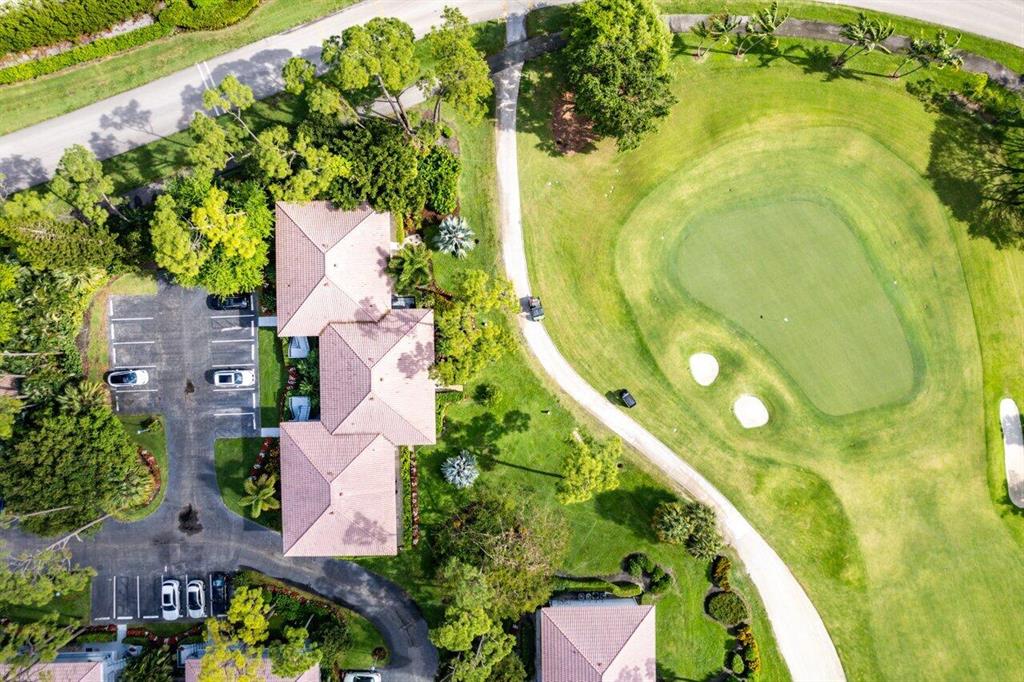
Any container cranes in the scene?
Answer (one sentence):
No, there appears to be no container crane in this shot.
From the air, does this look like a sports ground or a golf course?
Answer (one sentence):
The area seen from above is a golf course.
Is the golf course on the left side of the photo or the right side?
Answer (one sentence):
It is on the right.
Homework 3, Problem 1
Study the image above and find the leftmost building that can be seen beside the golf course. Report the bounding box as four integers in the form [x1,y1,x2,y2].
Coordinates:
[276,200,436,557]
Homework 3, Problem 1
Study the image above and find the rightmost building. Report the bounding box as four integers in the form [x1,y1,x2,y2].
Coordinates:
[535,597,656,682]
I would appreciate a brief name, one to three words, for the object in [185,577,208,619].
car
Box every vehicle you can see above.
[208,572,229,615]
[344,671,382,682]
[214,368,257,388]
[529,299,543,320]
[108,369,151,388]
[185,577,208,619]
[208,292,251,312]
[160,578,183,620]
[618,388,637,409]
